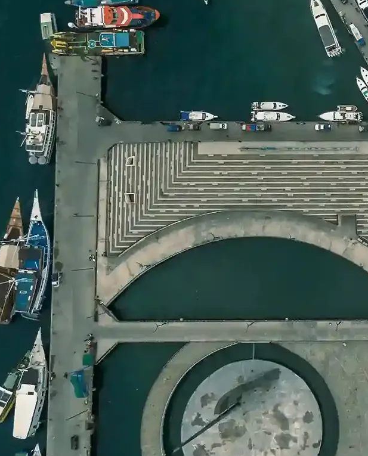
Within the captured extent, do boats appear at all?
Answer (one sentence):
Yes, the photo shows a boat.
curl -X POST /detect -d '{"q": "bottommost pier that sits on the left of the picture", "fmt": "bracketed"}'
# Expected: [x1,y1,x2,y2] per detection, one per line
[46,56,105,456]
